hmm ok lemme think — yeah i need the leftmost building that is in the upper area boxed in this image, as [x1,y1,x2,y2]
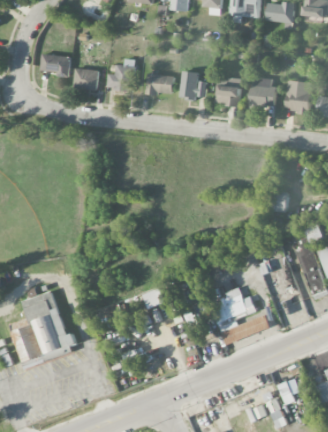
[44,54,71,76]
